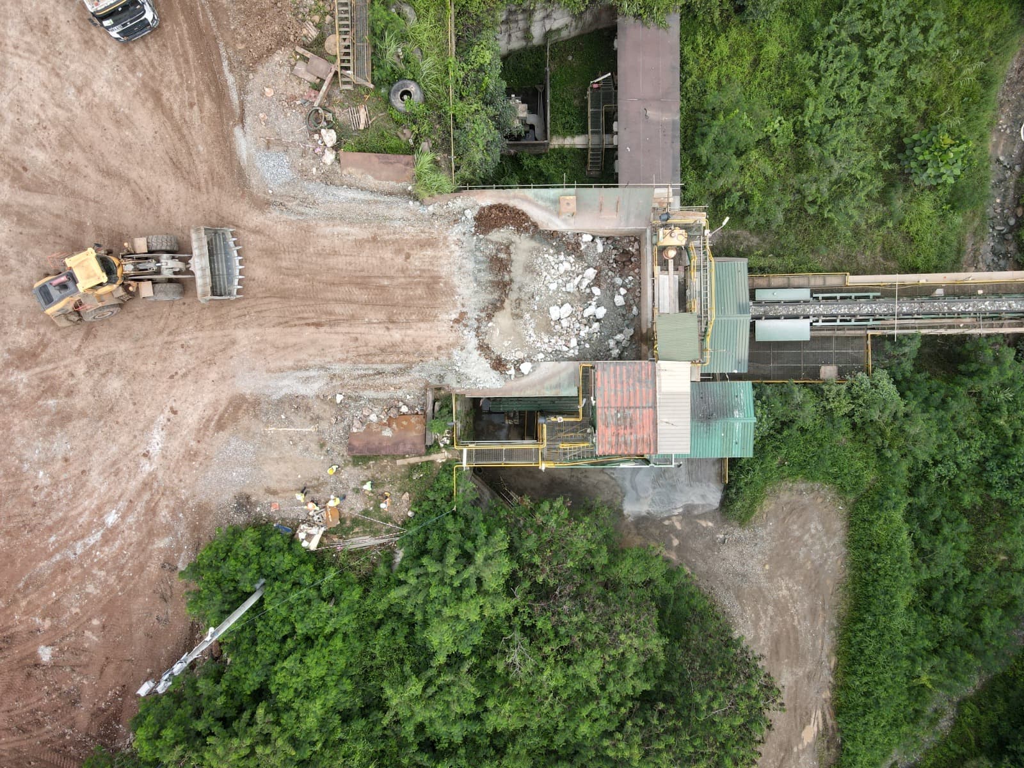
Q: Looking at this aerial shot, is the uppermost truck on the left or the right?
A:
left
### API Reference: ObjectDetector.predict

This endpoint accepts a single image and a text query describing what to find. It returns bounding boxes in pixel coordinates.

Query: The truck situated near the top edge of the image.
[82,0,162,49]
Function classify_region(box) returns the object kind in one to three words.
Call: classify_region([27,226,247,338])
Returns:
work vehicle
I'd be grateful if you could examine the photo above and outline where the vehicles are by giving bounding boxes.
[27,226,247,338]
[82,0,162,49]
